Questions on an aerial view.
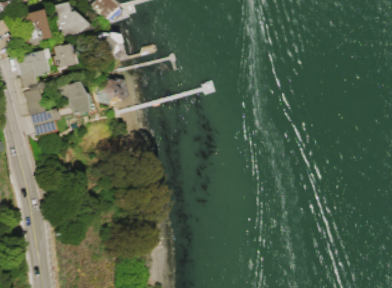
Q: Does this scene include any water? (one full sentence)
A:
Yes, there is water in the image.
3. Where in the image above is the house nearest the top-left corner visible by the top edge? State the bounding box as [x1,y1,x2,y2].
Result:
[27,10,51,46]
